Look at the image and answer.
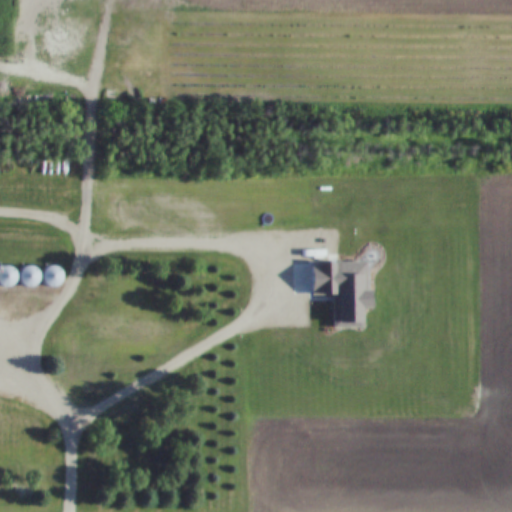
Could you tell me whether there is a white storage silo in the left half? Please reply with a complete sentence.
Yes, looking in the left half, one can make out a white storage silo.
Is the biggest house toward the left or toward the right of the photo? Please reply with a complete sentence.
It is on the right.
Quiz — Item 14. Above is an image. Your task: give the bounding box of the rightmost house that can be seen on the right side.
[314,261,376,323]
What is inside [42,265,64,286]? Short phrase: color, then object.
white silo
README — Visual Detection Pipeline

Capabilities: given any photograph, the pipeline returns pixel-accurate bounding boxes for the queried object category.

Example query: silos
[19,265,42,286]
[42,265,64,286]
[0,265,18,286]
